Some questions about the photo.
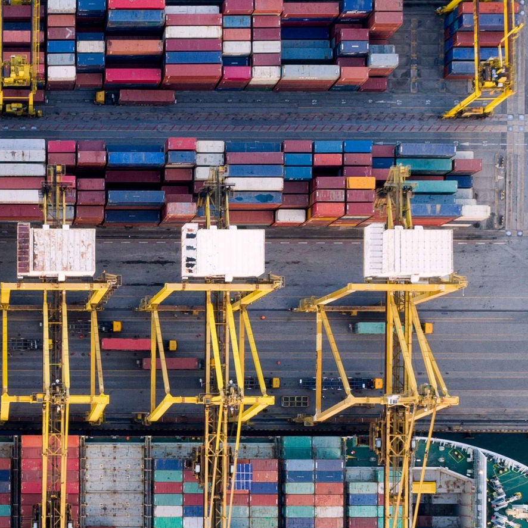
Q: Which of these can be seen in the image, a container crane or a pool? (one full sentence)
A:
The one in the frame is a container crane.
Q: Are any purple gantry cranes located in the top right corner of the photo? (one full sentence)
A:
No, I can find no purple gantry crane in the top right corner of the photo.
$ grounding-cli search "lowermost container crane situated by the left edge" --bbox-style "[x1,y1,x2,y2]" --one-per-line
[0,161,120,528]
